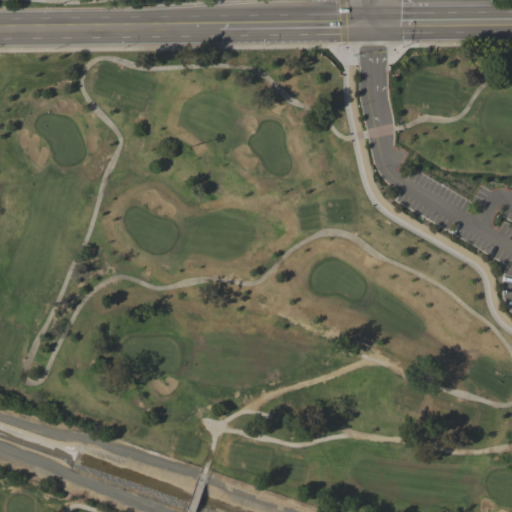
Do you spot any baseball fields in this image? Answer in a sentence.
No, the photo shows no baseball field.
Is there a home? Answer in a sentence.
No, I can't see a single home in this photo.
